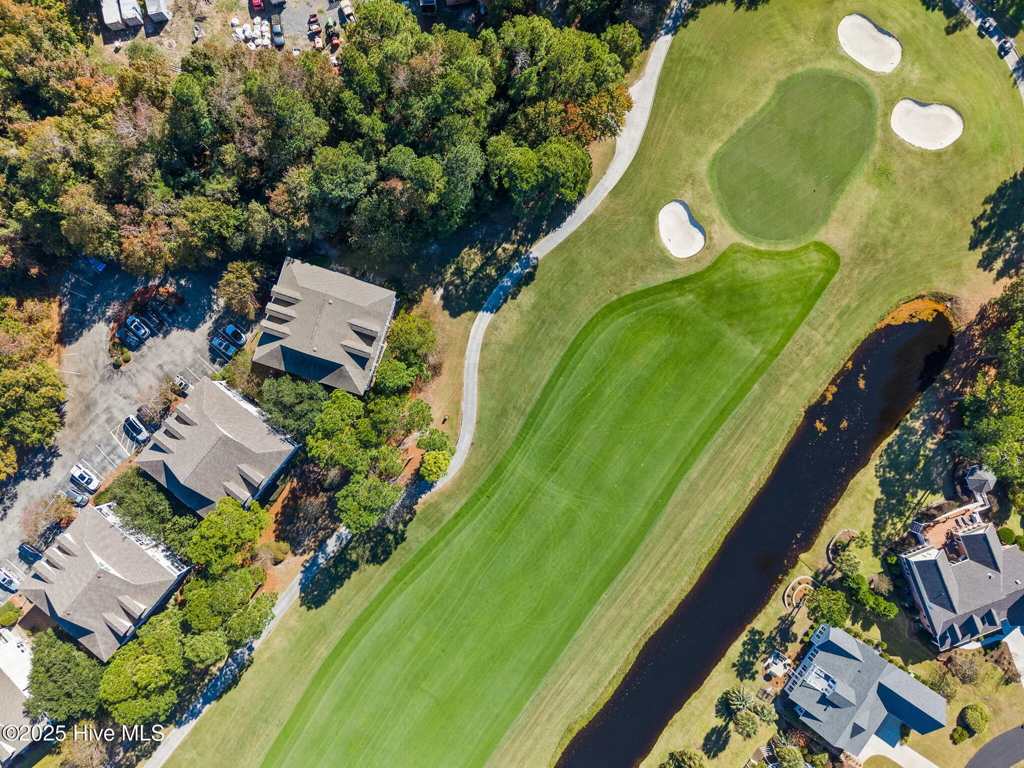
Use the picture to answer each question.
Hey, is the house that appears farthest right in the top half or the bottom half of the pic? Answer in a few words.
bottom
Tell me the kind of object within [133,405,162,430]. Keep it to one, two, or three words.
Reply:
car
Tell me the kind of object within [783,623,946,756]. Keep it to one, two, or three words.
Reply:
house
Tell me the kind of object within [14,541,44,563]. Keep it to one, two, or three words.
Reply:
car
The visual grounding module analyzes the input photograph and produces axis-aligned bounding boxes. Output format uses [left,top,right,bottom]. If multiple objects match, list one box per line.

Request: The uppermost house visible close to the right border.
[898,522,1024,651]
